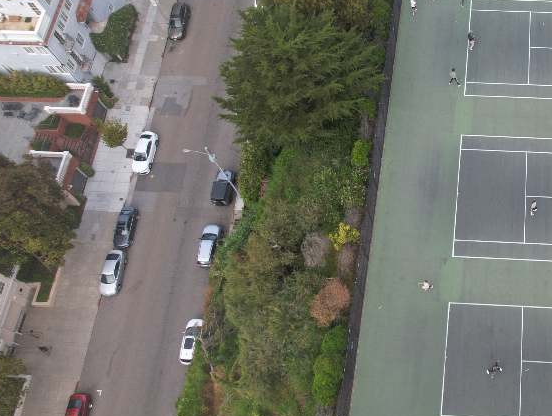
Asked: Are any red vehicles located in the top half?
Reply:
No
